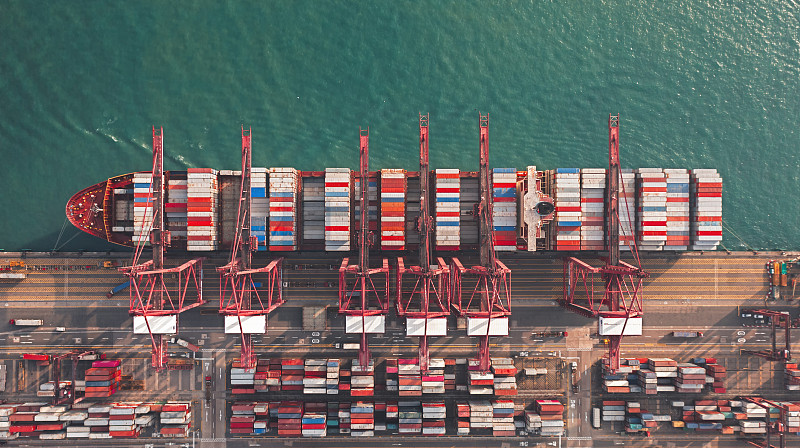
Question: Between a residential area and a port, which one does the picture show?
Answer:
port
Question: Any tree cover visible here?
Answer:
No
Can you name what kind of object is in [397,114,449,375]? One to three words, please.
container crane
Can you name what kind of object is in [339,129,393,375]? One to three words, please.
container crane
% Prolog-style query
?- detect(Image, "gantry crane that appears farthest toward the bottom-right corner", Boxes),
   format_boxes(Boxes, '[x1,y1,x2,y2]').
[744,395,785,448]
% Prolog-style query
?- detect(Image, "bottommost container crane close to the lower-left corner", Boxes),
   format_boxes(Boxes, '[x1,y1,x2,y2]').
[54,346,96,405]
